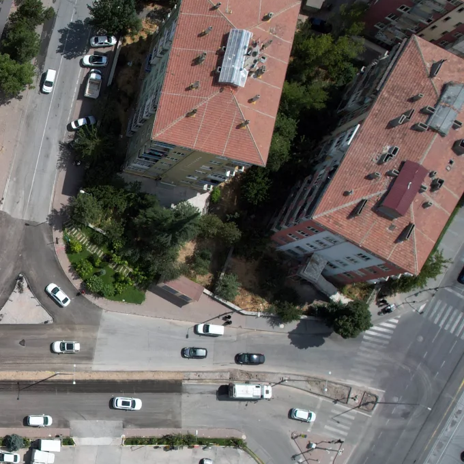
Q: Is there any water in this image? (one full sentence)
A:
No, the scene doesn't show any water.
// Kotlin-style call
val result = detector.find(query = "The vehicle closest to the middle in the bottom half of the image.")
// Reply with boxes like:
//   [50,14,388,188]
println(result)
[193,321,227,337]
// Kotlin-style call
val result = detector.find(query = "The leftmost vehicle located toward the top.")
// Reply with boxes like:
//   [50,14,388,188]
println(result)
[40,65,58,96]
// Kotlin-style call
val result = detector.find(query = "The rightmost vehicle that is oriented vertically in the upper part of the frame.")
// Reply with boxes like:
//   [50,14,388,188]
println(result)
[86,66,102,102]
